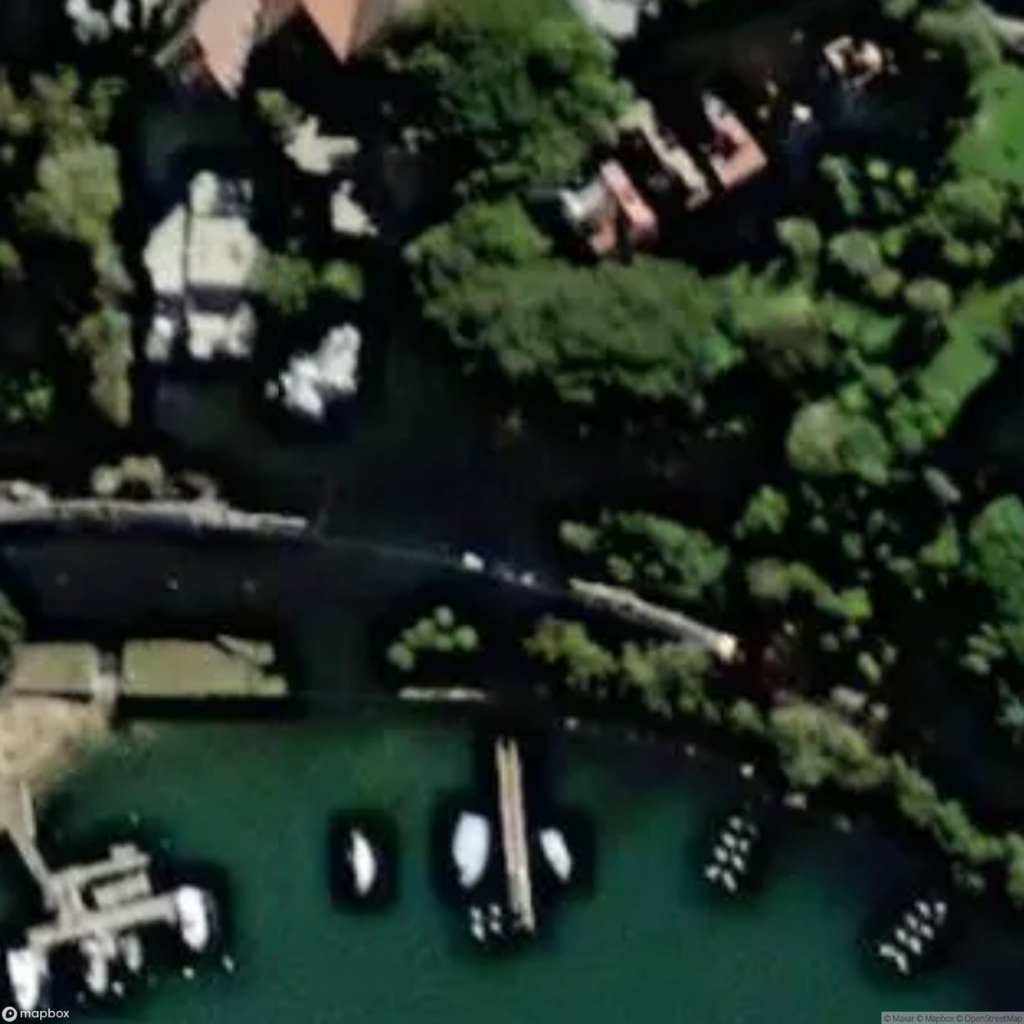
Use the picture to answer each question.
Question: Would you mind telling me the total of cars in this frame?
one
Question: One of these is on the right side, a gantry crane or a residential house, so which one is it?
residential house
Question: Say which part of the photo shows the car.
center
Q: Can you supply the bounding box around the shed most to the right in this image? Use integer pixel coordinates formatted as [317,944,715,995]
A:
[923,468,960,501]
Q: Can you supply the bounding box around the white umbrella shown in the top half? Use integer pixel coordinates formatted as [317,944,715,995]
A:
[794,106,809,120]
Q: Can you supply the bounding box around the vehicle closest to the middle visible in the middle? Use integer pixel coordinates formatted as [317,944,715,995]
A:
[460,550,485,570]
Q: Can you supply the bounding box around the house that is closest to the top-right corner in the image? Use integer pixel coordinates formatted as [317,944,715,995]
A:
[823,35,882,90]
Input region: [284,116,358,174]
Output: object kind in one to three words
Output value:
building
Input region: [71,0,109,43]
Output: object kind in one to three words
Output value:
shed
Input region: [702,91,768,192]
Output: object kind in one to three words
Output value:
house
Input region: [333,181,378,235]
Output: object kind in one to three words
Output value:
building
